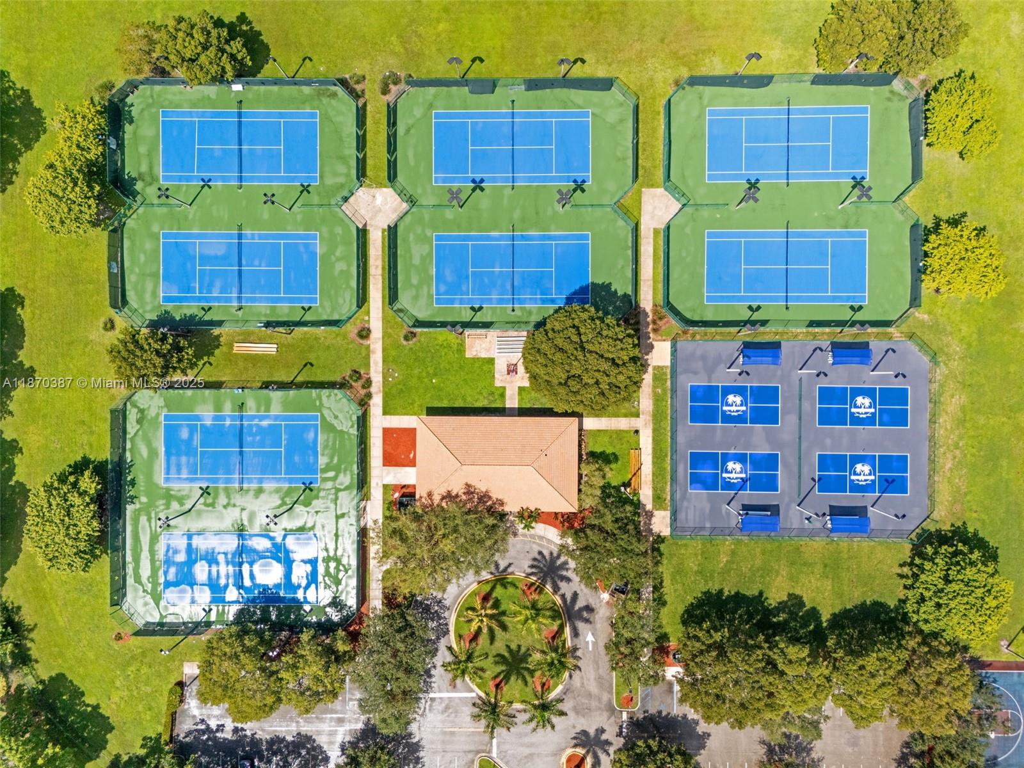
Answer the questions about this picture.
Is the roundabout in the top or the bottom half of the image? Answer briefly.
bottom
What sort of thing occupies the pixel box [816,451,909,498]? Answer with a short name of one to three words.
sports court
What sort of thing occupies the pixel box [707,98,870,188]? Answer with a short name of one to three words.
tennis court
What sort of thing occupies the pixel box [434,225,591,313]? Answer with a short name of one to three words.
tennis court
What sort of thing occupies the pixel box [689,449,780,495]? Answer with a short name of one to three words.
sports court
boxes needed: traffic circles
[449,571,571,706]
